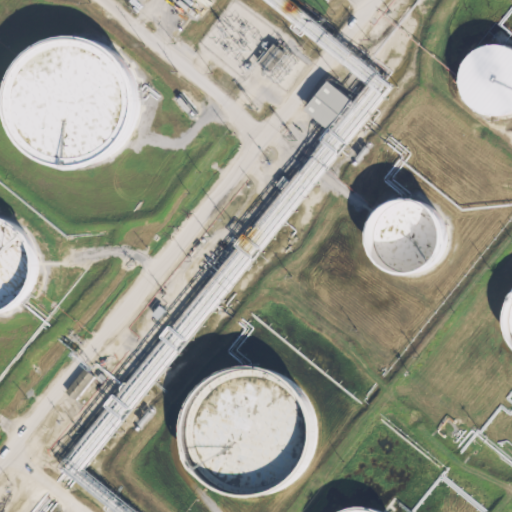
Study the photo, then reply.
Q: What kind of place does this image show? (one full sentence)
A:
The picture captures an industrial area.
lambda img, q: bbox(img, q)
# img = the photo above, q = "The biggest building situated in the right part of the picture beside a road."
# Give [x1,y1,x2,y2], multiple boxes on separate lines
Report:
[304,81,354,128]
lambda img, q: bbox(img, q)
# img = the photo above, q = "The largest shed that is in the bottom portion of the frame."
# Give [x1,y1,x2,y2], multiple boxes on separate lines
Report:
[68,372,99,403]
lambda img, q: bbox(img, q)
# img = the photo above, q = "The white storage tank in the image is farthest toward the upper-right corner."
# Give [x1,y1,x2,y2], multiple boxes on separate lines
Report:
[458,42,512,120]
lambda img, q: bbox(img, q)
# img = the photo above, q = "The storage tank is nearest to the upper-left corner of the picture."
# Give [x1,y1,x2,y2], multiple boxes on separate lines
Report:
[0,34,143,170]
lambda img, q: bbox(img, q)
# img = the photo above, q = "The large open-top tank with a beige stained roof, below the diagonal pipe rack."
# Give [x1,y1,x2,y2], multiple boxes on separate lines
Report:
[176,366,317,498]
